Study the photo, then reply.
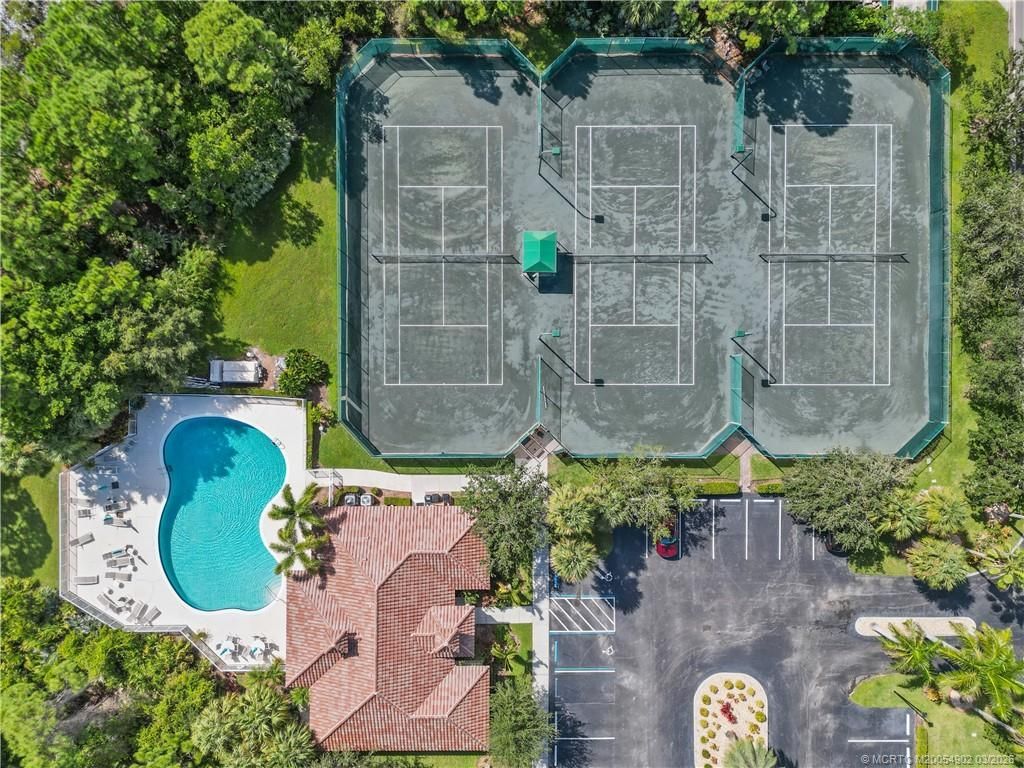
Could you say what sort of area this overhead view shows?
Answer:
sports ground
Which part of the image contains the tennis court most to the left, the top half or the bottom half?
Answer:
top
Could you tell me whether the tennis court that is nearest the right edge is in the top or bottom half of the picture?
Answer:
top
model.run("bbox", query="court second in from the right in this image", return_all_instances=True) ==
[539,55,732,454]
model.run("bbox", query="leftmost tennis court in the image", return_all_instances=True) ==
[345,55,540,453]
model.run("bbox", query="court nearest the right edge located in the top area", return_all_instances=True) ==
[731,55,928,454]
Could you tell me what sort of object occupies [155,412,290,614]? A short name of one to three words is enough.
swimming pool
